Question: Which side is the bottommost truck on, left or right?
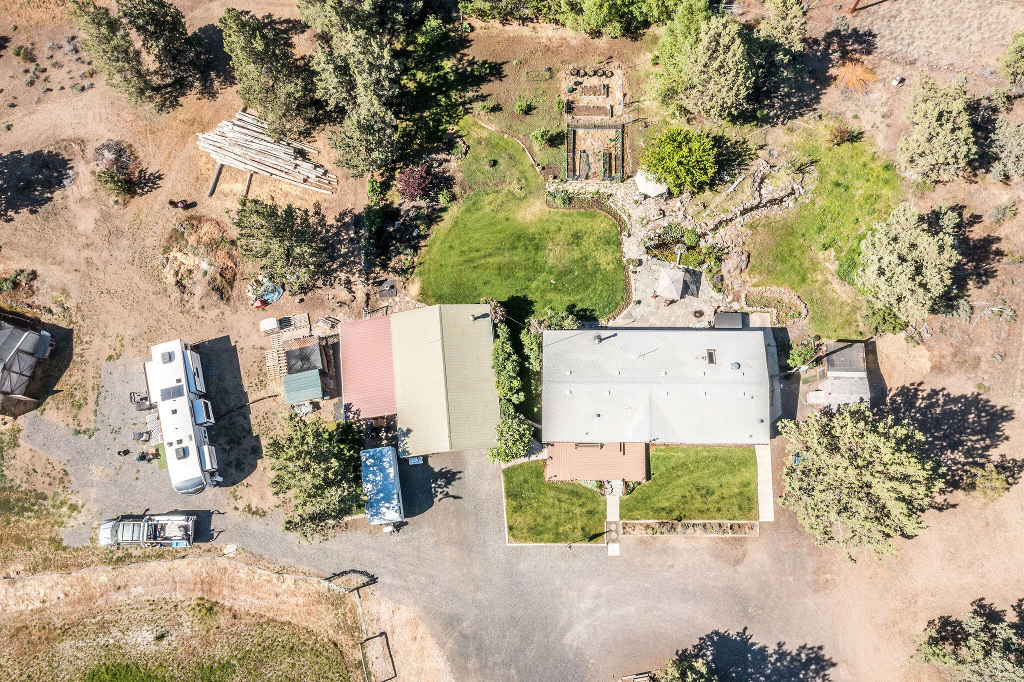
left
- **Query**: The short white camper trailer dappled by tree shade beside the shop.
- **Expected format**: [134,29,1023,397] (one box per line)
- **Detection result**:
[360,446,403,538]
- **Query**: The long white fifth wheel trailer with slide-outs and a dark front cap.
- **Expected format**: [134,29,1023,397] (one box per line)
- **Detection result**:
[145,339,224,498]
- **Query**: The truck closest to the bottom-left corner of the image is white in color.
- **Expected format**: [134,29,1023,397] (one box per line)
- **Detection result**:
[99,515,202,549]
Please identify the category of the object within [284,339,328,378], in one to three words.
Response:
shed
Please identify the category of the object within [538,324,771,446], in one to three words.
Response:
house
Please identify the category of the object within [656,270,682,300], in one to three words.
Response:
umbrella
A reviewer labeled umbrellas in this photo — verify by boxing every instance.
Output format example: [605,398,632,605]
[629,167,670,200]
[656,270,682,300]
